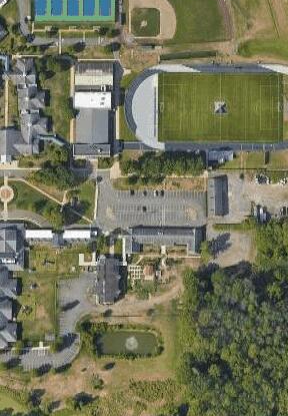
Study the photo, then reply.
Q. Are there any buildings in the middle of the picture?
Yes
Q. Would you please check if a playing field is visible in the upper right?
Yes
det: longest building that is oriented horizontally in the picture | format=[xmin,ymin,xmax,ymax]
[123,226,207,253]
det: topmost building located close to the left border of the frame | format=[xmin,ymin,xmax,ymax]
[0,60,48,163]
